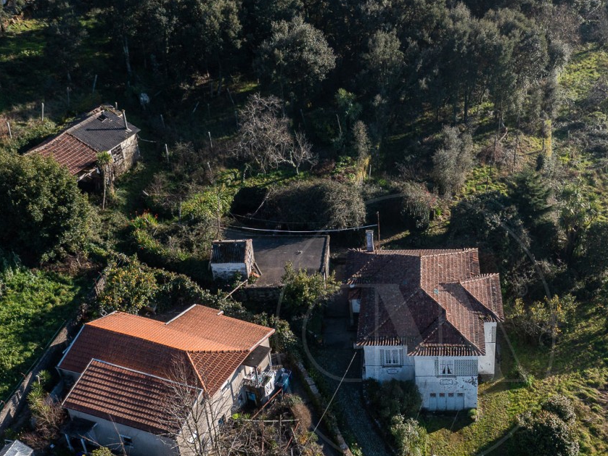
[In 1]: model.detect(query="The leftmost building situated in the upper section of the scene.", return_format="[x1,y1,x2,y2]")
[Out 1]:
[16,108,143,184]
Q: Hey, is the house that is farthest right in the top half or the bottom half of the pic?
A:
bottom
